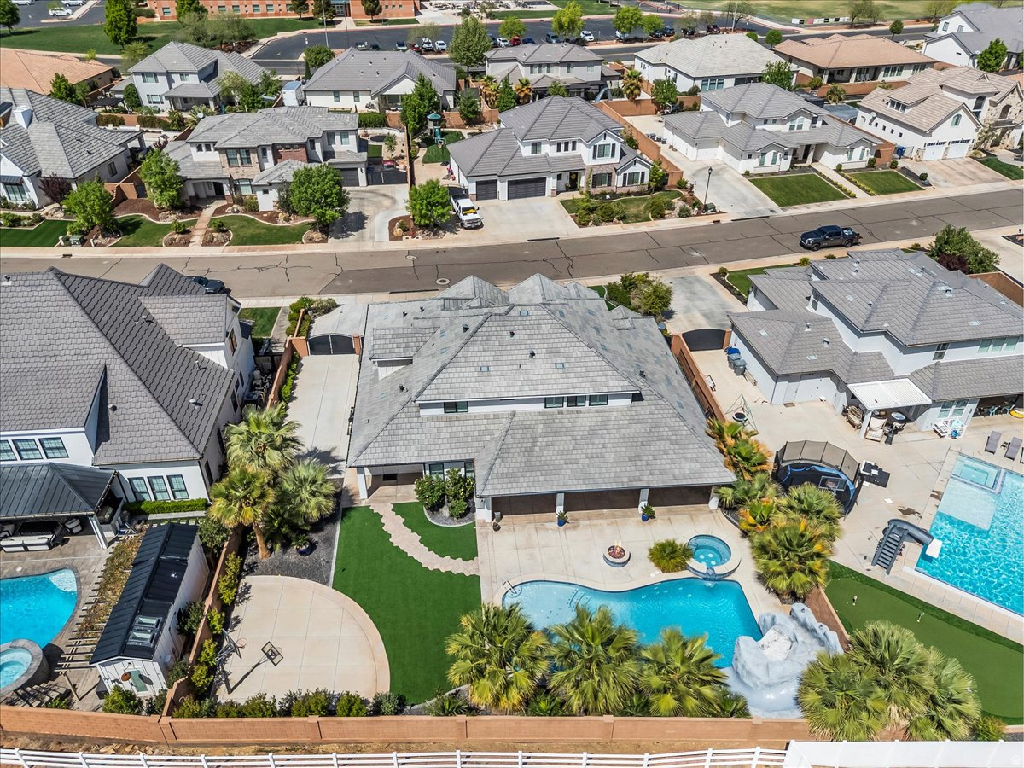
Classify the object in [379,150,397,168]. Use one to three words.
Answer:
car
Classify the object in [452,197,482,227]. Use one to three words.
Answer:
truck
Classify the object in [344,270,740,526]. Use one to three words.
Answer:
house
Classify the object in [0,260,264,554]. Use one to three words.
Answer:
house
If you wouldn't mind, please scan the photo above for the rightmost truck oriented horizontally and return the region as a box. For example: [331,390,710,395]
[797,221,863,250]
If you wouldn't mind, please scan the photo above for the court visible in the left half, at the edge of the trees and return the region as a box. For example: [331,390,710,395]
[204,580,376,702]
